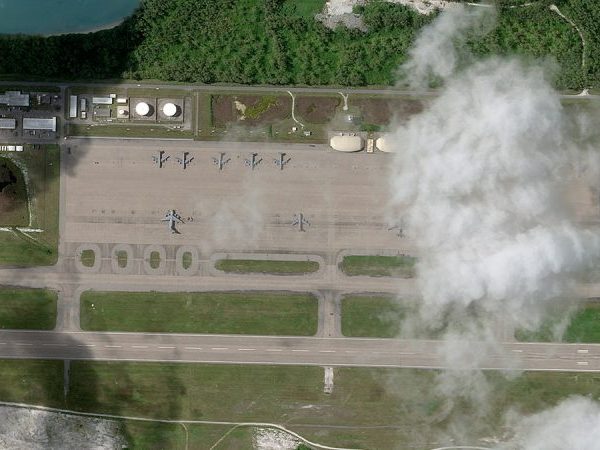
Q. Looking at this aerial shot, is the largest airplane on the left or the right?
left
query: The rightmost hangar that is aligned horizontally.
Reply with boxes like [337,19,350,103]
[376,136,410,152]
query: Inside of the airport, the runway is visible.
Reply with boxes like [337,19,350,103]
[0,330,600,370]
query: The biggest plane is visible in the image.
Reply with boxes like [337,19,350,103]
[160,210,182,233]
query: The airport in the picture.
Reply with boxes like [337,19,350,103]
[0,131,600,397]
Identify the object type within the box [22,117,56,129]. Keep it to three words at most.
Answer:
shed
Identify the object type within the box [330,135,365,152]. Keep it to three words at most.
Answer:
hangar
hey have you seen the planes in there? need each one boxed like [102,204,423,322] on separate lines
[160,210,182,233]
[292,213,309,231]
[175,151,193,169]
[151,150,168,168]
[212,153,229,171]
[244,153,261,171]
[272,152,290,171]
